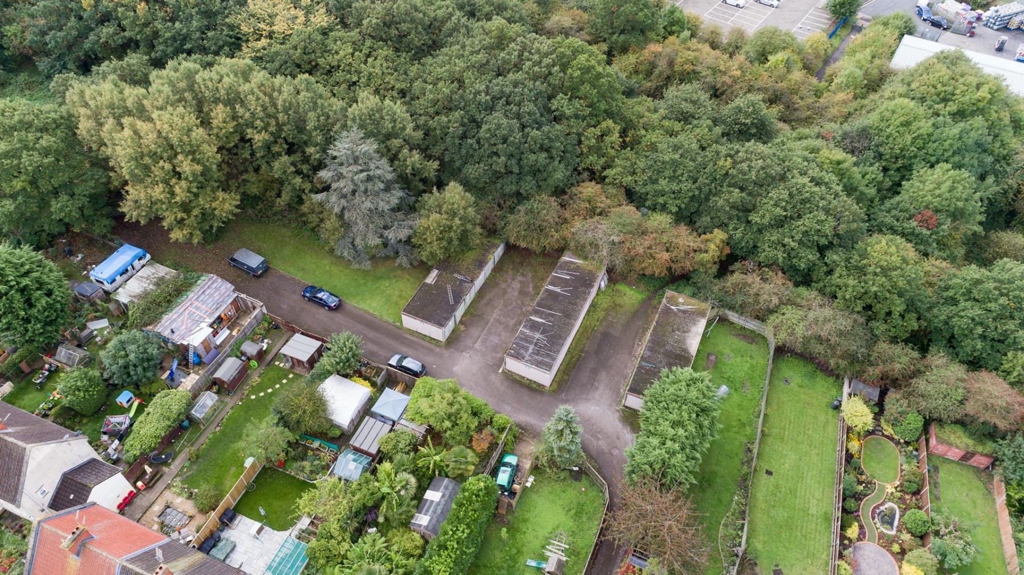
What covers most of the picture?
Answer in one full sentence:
The scene is dominated by trees.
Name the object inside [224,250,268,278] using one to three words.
van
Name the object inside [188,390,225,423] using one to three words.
greenhouse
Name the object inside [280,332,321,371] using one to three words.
shed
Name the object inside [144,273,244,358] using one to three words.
building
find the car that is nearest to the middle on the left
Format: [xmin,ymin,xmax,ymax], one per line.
[386,353,428,378]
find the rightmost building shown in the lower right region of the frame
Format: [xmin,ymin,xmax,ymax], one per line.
[922,421,996,472]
